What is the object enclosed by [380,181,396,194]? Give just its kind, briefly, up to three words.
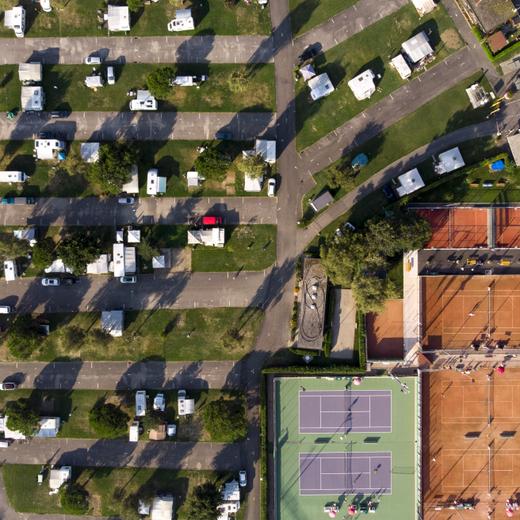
vehicle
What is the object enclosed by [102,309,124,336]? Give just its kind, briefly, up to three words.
tent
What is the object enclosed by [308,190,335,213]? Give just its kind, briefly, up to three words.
shed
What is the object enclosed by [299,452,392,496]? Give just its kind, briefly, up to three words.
tennis court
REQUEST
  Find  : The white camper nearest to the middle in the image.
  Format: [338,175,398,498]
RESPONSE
[205,229,224,246]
